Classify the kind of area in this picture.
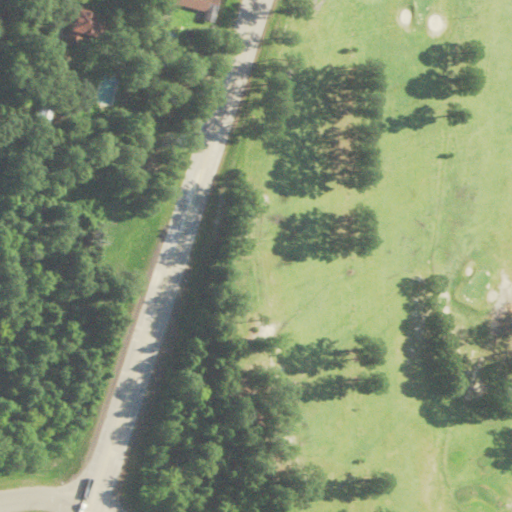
golf course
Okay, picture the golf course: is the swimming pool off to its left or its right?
left of it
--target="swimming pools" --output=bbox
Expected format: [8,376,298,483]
[97,76,118,107]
